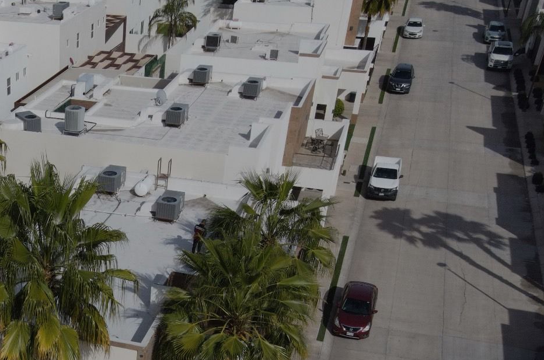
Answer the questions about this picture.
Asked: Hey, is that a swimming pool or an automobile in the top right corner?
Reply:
automobile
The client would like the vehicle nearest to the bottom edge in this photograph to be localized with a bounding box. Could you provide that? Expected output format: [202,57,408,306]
[336,285,379,339]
